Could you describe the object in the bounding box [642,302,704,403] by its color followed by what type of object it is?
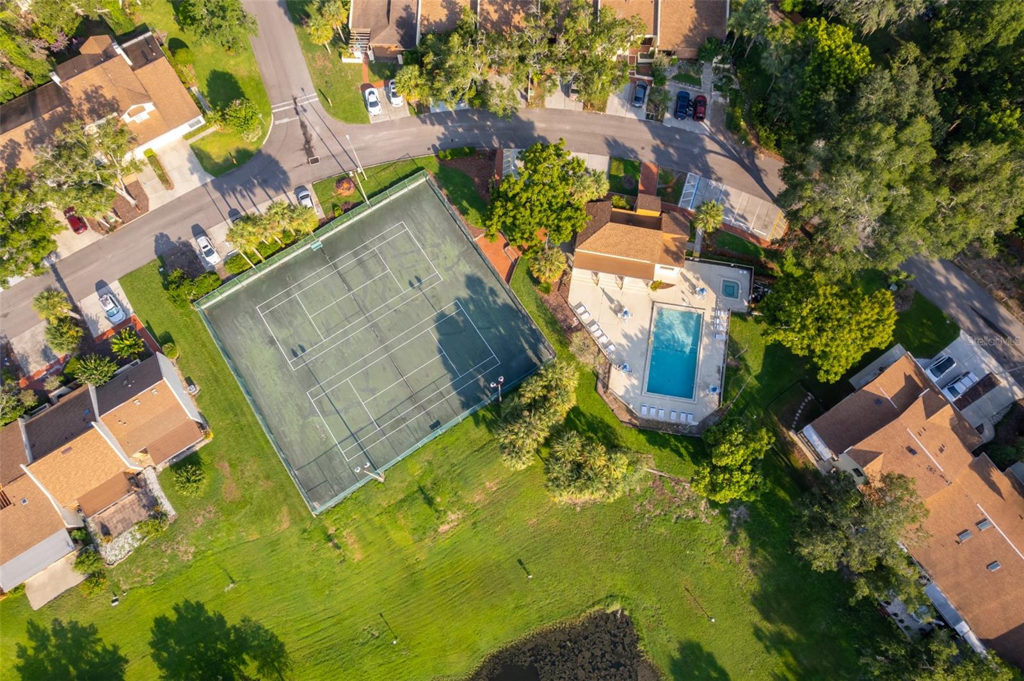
blue swimming pool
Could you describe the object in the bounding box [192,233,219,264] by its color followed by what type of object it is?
white car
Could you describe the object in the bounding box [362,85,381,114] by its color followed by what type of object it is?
white car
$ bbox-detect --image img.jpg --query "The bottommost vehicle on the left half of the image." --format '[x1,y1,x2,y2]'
[95,291,124,323]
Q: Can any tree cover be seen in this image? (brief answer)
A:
Yes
